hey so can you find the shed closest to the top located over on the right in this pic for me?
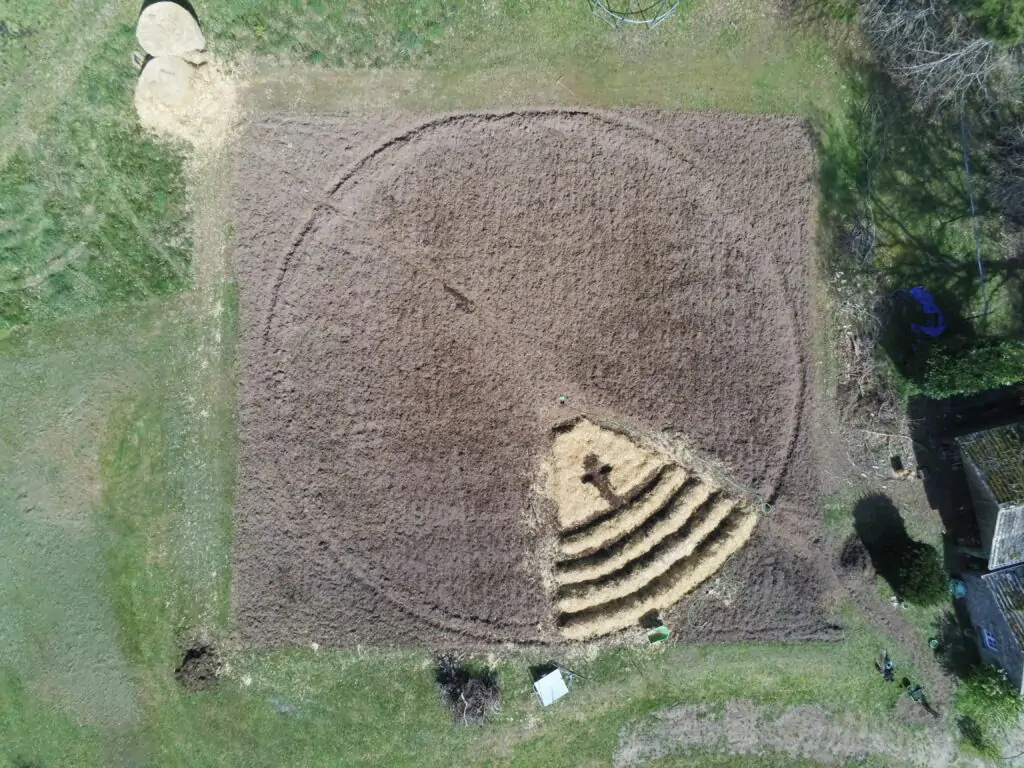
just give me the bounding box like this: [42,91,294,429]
[920,410,1024,579]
